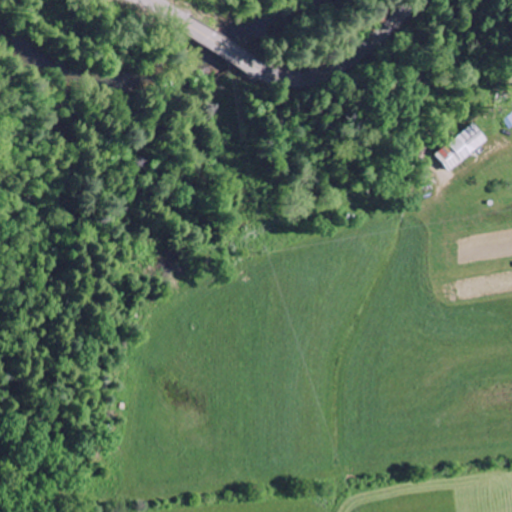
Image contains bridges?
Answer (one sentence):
Yes, a bridge is visible in the scene.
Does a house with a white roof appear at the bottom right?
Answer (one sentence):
No, no house with a white roof appears at the bottom right.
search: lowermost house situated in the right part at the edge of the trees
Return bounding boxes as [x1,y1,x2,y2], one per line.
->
[436,122,488,171]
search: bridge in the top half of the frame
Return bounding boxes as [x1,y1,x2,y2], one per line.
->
[186,18,263,76]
